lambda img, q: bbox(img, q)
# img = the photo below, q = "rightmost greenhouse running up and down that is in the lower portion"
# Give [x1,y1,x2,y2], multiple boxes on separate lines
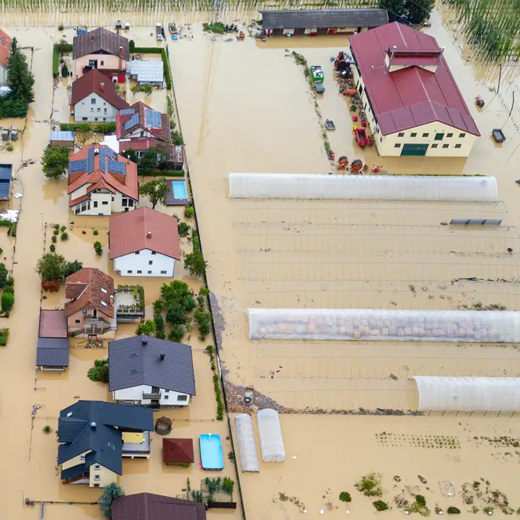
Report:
[258,403,286,461]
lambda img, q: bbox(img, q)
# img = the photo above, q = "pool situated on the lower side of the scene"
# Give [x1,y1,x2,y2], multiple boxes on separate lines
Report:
[199,433,223,474]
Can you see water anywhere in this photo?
Yes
